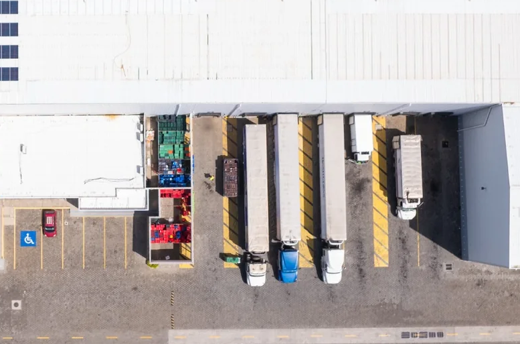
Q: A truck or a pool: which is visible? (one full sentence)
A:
The one in the frame is a truck.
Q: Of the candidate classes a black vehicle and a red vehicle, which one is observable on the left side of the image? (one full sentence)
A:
What appears on the left side of the image is a red vehicle.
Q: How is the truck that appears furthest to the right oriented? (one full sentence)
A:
The truck that appears furthest to the right runs up and down in the image.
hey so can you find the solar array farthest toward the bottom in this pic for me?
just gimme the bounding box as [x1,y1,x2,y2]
[0,67,19,80]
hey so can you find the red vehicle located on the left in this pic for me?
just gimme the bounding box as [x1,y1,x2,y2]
[41,210,58,239]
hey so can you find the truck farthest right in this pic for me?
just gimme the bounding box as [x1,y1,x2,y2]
[388,134,422,219]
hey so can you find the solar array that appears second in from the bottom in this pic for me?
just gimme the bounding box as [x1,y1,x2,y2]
[0,45,19,59]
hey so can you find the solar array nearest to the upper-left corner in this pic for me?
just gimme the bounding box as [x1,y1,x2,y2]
[0,1,19,14]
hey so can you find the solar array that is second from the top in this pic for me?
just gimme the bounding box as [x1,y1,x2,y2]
[0,22,19,37]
